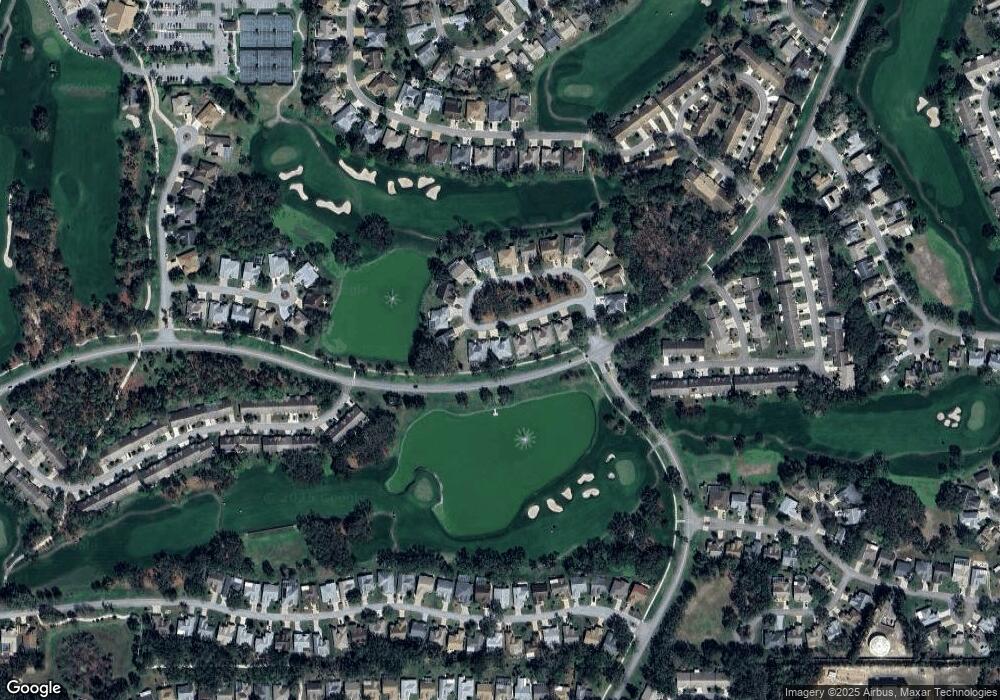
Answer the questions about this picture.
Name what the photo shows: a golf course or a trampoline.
golf course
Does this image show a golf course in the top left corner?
Yes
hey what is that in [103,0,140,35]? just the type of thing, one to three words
building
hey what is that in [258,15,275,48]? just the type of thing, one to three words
tennis court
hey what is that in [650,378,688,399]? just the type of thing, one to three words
house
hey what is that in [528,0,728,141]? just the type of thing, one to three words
golf course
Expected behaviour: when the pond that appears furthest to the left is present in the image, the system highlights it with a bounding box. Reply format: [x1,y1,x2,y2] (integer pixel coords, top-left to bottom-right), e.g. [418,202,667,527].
[322,246,432,362]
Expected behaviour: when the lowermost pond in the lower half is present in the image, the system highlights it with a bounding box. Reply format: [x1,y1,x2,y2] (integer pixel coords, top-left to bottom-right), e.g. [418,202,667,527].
[386,389,599,538]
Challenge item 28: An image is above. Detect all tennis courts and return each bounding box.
[258,15,275,48]
[240,49,258,83]
[240,15,258,48]
[258,49,275,83]
[275,49,293,83]
[275,15,293,48]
